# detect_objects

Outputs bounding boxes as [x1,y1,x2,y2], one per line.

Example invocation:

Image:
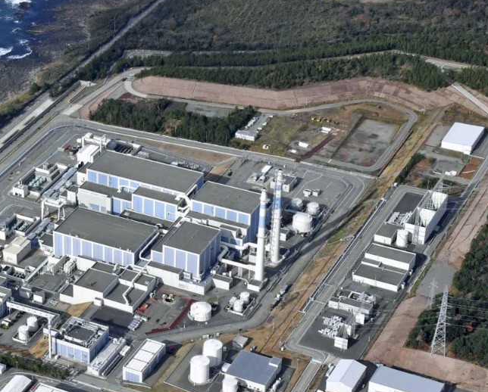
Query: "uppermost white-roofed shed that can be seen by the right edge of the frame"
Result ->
[441,121,484,154]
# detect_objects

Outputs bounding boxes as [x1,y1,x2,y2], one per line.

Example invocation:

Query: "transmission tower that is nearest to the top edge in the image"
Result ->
[434,167,449,193]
